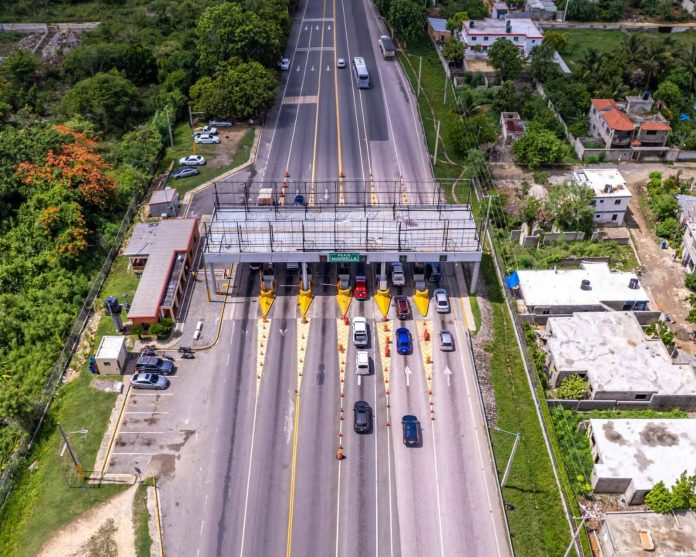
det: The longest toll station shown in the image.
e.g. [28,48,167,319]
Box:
[203,205,484,294]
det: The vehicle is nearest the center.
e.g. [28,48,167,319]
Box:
[353,271,368,296]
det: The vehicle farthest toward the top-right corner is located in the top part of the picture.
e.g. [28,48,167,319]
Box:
[379,35,396,58]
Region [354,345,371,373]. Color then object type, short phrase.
white car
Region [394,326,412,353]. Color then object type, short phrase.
blue car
